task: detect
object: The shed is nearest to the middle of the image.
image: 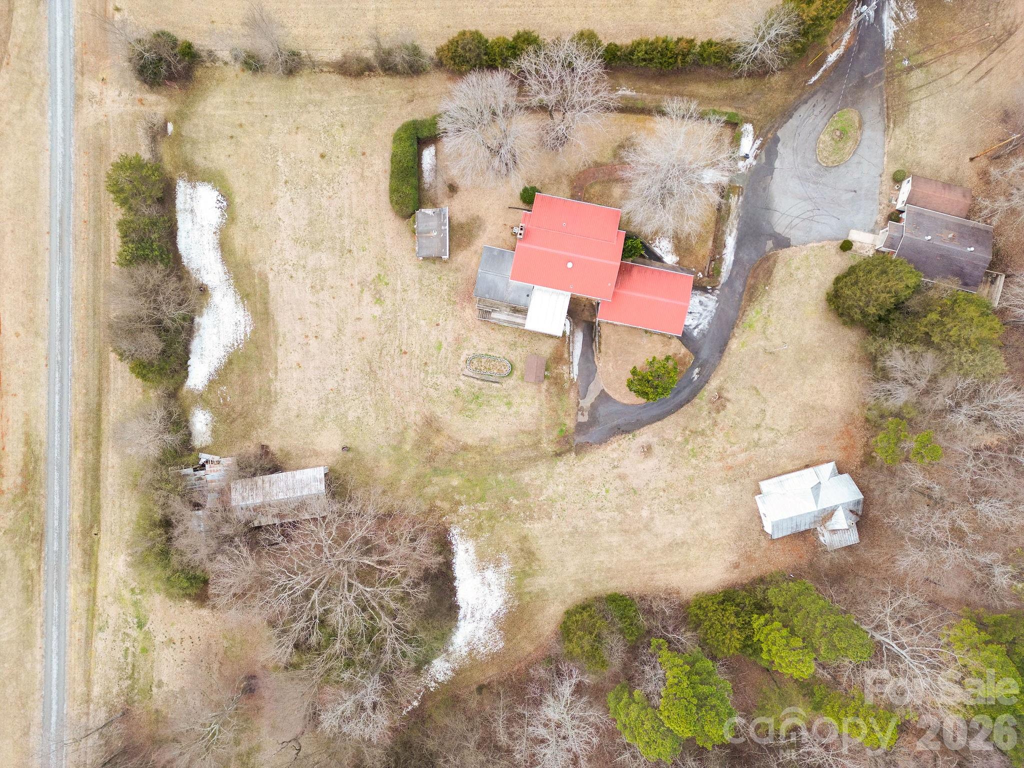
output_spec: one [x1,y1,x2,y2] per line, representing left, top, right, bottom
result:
[524,354,546,383]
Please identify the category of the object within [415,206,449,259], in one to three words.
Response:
shed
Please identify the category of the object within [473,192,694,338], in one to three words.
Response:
house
